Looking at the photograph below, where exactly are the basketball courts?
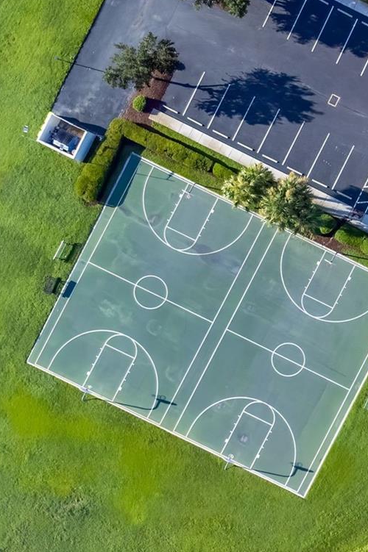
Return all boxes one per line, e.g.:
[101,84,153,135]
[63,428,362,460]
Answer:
[164,222,368,499]
[26,151,271,431]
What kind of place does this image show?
sports ground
